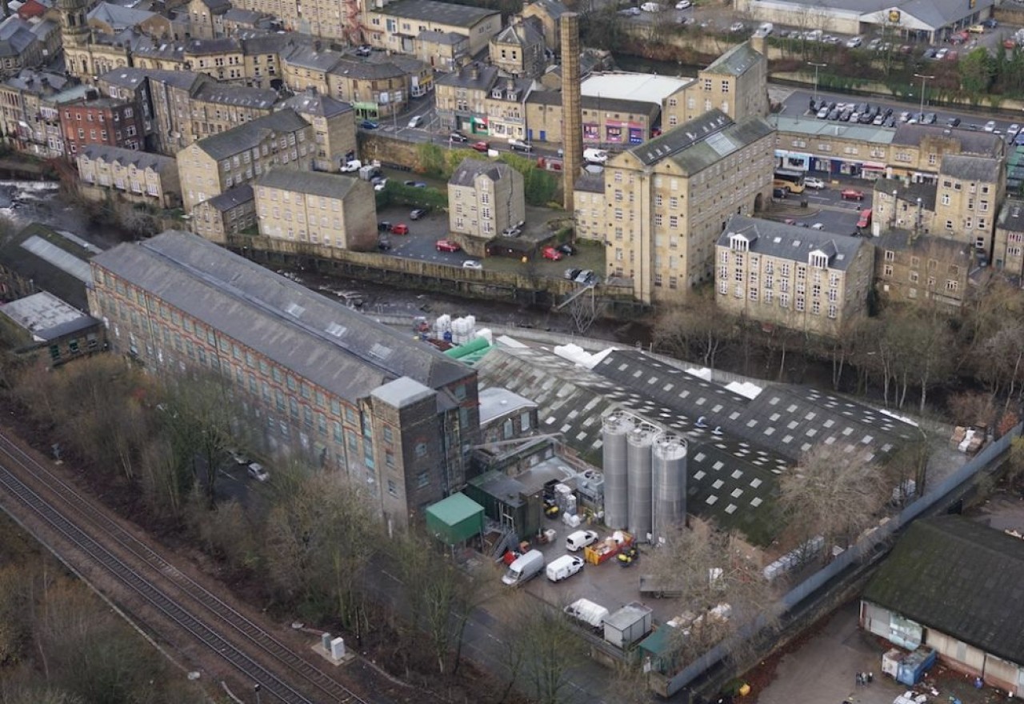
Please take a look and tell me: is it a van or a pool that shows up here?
van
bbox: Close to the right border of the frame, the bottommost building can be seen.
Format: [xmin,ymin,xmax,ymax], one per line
[857,504,1024,700]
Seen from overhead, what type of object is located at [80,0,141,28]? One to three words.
house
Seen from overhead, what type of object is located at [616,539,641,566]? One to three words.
work vehicle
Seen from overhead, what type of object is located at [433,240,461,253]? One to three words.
vehicle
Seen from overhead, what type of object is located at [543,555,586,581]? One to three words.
vehicle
